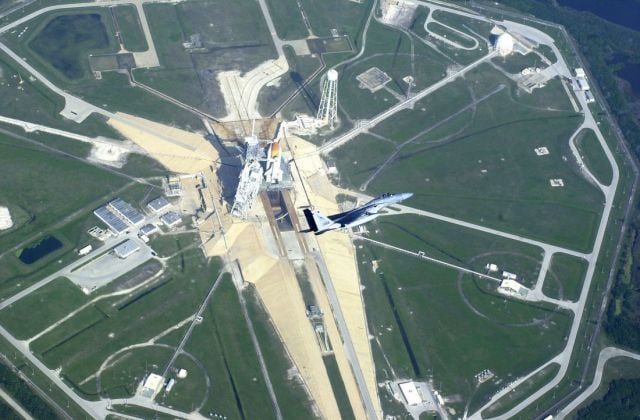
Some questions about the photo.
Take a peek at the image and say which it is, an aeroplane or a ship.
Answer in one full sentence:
I can see an aeroplane in this picture.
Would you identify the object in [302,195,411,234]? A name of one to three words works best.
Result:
airplane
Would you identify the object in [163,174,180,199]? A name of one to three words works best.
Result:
building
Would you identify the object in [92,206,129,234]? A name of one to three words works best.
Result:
building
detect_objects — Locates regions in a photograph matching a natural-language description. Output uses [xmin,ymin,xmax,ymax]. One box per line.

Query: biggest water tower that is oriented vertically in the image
[316,68,340,129]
